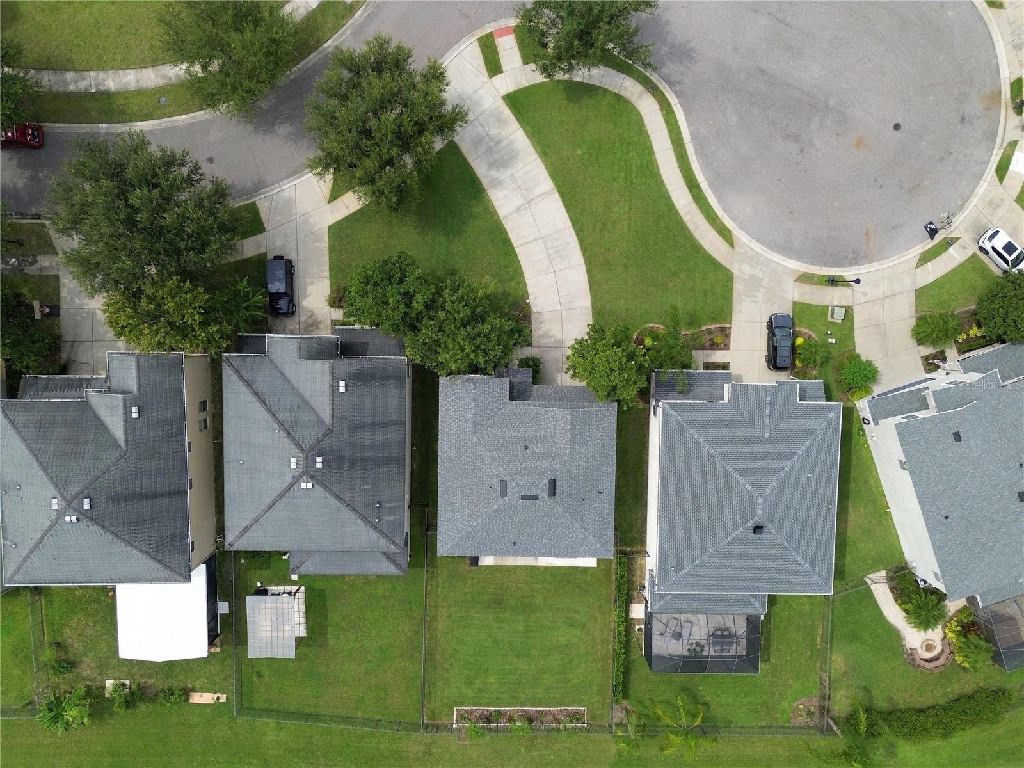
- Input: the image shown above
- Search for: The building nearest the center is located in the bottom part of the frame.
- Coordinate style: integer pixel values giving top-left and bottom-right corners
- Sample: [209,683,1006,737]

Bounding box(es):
[437,368,615,558]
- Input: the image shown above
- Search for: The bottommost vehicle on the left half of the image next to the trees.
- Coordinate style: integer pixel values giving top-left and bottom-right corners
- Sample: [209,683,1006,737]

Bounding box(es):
[266,254,299,315]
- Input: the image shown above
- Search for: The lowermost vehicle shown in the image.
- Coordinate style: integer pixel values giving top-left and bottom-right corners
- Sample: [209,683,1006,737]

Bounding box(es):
[764,313,797,369]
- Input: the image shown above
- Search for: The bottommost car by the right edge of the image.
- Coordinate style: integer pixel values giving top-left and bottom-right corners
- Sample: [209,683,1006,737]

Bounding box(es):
[978,225,1024,281]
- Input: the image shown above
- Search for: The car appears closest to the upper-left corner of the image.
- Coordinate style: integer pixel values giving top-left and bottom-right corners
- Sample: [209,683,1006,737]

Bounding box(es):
[0,121,45,154]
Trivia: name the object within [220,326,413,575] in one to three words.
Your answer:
house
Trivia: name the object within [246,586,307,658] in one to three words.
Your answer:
gazebo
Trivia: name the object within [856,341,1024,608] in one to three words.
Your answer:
house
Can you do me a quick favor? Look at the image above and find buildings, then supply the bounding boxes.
[646,369,841,615]
[437,368,615,558]
[856,341,1024,608]
[220,326,413,575]
[0,350,217,587]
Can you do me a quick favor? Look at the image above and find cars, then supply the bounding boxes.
[0,121,45,154]
[764,313,797,369]
[266,254,299,315]
[978,225,1024,281]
